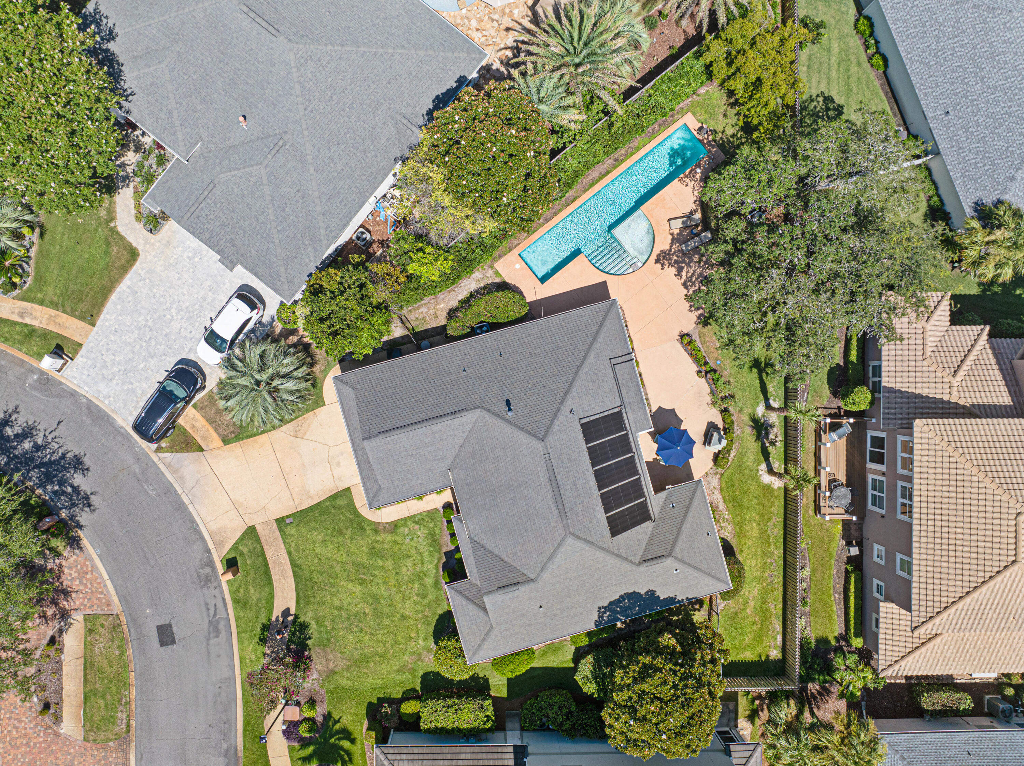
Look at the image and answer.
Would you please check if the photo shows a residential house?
Yes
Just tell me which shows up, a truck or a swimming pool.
swimming pool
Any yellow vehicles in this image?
No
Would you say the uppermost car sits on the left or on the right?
left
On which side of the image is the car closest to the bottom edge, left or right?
left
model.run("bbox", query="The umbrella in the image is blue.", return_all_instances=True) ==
[657,427,696,467]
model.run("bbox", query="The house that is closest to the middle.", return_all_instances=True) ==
[329,296,734,667]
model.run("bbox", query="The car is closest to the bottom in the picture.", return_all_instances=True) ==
[126,361,209,450]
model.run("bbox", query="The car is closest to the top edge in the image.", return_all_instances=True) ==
[192,287,267,369]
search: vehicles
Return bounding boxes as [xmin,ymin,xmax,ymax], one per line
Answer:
[192,287,267,369]
[126,361,209,450]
